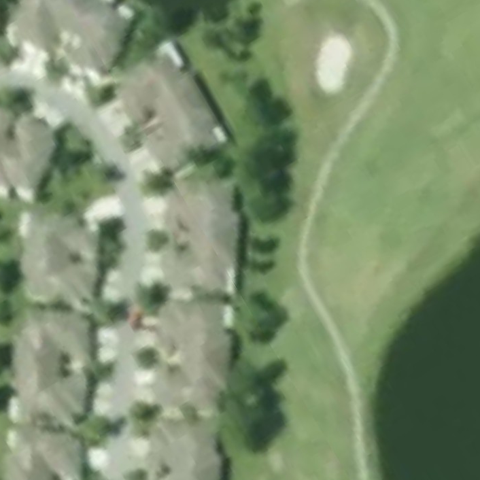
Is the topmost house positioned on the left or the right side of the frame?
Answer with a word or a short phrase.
left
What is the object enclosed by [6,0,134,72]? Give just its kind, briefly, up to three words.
house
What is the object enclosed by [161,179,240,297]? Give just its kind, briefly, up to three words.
house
